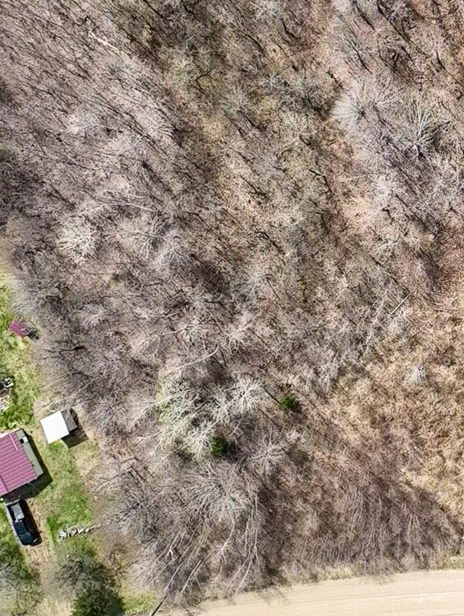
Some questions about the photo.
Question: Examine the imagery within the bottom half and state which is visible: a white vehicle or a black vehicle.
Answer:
black vehicle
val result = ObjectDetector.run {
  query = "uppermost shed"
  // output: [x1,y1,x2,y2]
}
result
[9,320,36,339]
